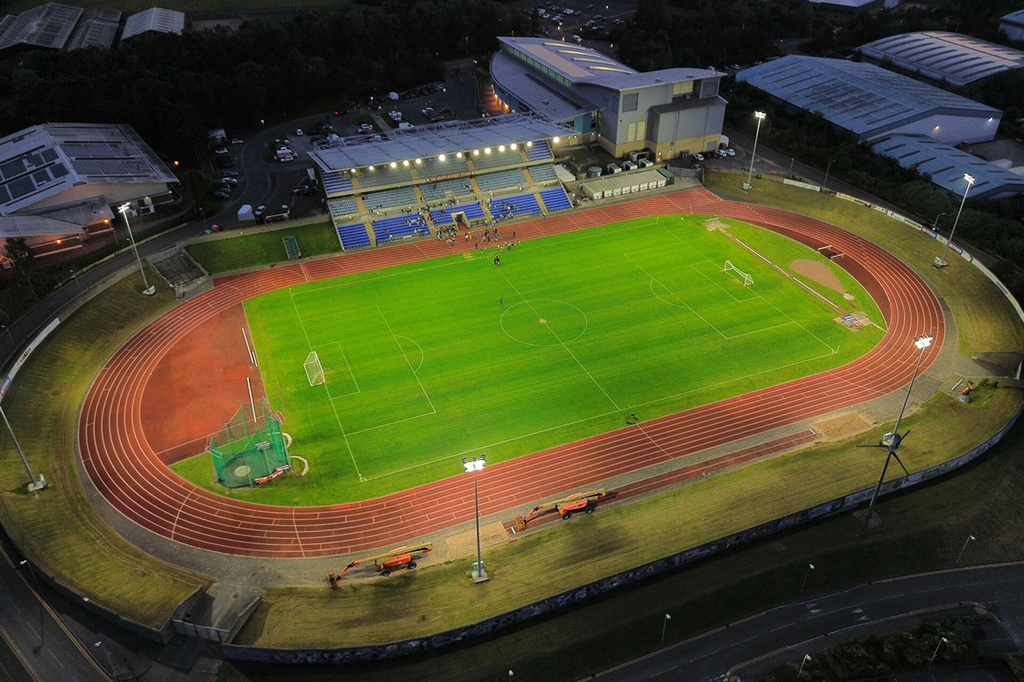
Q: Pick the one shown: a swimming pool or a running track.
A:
running track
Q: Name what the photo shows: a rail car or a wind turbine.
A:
wind turbine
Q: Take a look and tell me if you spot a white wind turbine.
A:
No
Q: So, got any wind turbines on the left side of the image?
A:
No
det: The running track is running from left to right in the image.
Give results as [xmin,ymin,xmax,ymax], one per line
[79,199,945,555]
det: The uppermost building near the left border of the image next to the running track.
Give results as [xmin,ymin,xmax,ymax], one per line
[0,121,184,222]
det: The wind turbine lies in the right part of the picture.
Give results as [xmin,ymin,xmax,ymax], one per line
[861,431,909,518]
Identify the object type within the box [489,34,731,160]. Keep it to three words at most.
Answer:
building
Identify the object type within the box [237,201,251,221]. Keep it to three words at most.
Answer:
vehicle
